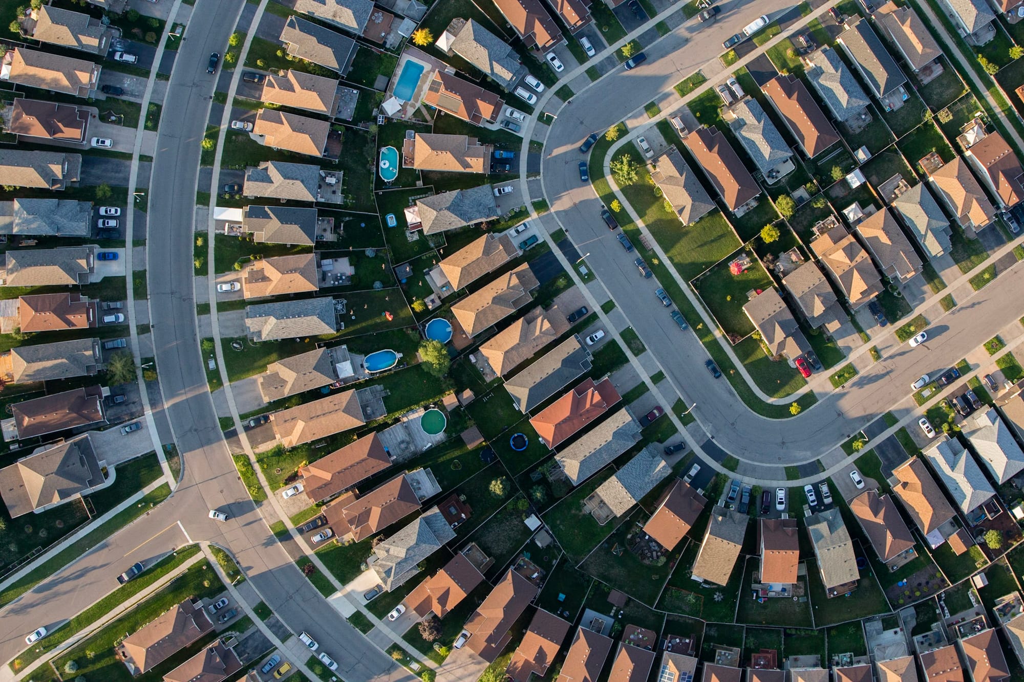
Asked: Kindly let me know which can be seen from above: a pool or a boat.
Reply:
pool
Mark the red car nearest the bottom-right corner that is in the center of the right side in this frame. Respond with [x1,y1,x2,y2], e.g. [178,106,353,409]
[796,356,813,379]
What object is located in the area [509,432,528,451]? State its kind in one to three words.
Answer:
trampoline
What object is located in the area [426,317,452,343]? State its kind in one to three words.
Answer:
swimming pool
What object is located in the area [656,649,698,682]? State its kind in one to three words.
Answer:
house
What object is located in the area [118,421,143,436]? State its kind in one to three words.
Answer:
car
